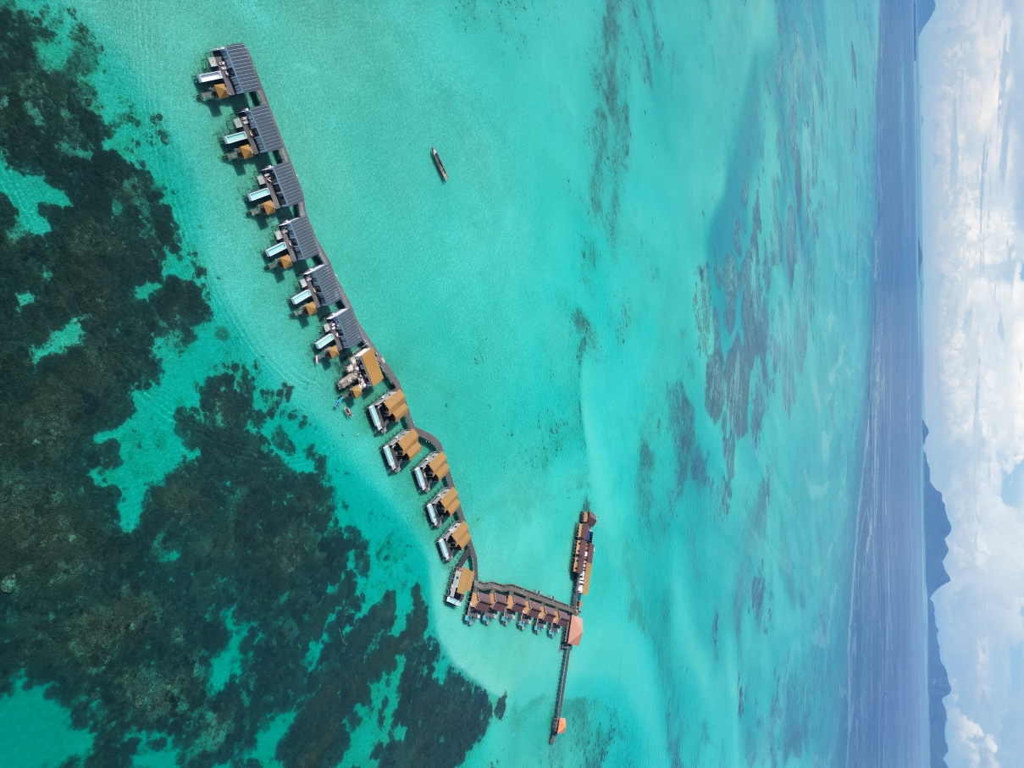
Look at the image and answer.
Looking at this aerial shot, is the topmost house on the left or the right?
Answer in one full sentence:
You can find the topmost house on the left side of the picture.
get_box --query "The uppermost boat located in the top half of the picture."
[432,146,449,181]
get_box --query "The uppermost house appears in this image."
[207,44,259,96]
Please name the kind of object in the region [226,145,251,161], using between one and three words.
gazebo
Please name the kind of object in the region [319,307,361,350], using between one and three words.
house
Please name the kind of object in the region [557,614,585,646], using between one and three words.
building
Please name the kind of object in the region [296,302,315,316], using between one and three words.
gazebo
